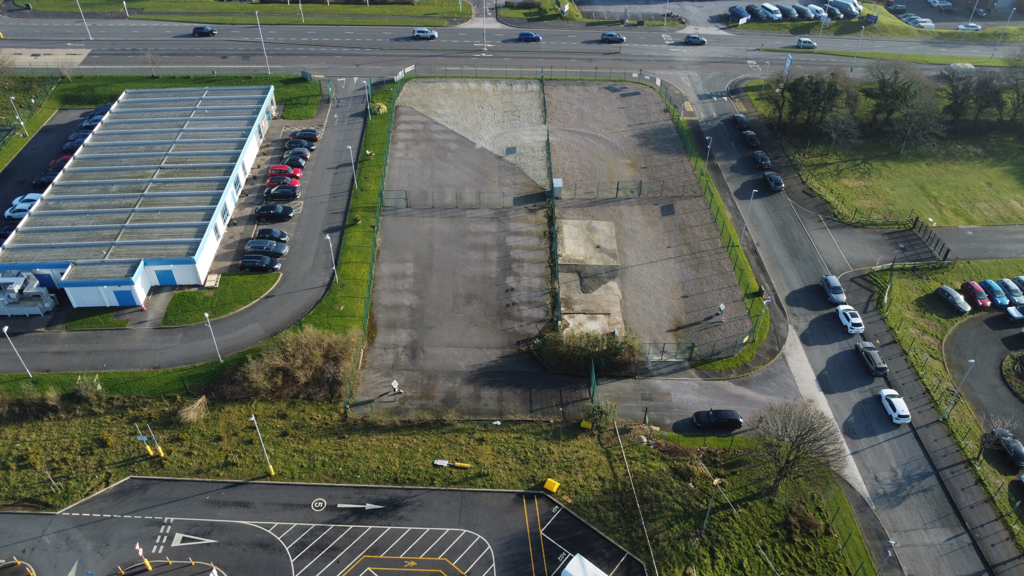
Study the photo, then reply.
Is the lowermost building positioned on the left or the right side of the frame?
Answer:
left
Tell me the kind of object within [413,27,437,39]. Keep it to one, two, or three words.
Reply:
vehicle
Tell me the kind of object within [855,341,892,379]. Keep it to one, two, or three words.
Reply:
car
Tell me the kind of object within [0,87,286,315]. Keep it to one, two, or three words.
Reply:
building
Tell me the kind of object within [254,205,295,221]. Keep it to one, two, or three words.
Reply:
car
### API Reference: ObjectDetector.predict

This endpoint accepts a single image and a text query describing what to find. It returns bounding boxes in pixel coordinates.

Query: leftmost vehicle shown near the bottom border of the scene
[564,556,607,576]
